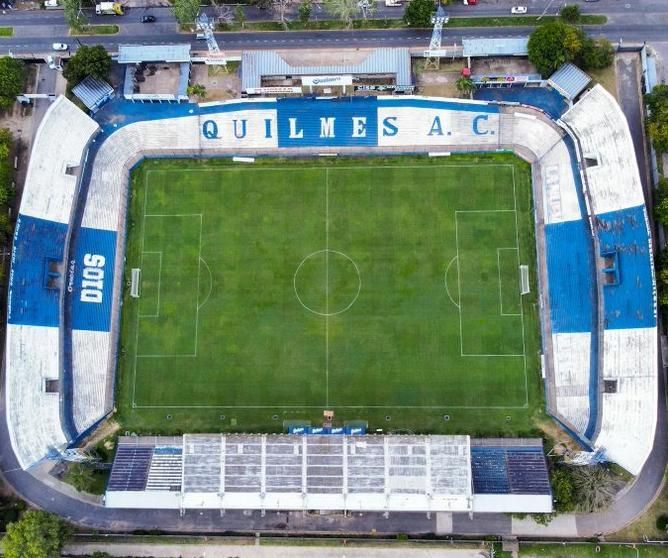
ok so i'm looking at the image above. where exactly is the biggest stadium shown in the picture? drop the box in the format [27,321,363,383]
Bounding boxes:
[5,82,660,476]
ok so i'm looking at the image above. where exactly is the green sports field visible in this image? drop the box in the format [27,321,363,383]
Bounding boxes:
[113,155,552,441]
